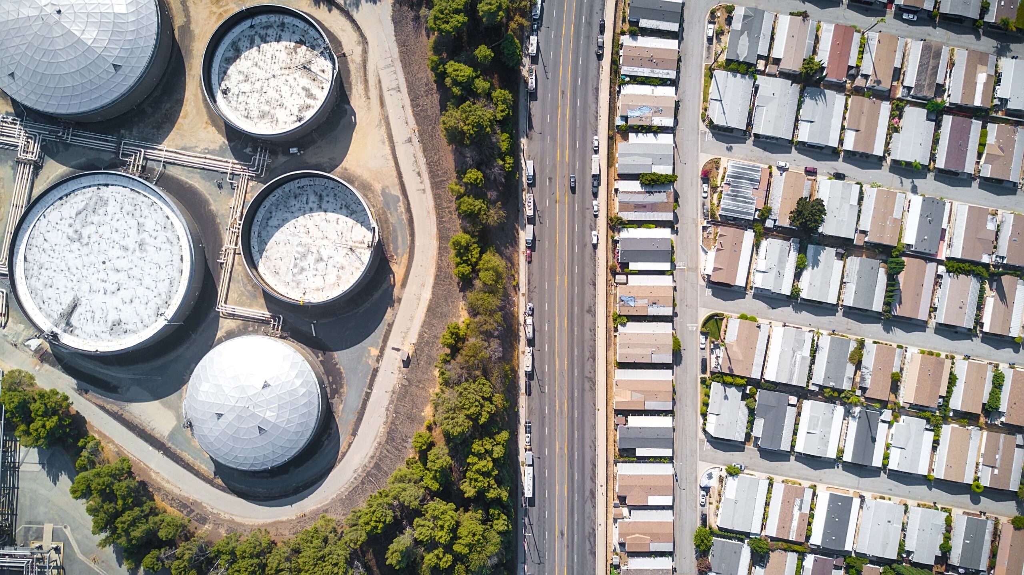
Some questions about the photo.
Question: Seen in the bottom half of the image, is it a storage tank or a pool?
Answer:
storage tank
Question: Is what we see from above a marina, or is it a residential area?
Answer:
residential area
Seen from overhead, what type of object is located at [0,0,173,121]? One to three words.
storage tank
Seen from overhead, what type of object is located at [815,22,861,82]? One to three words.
house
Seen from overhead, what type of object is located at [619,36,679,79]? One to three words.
house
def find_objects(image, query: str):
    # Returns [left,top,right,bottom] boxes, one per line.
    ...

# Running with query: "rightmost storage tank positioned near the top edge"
[201,4,347,141]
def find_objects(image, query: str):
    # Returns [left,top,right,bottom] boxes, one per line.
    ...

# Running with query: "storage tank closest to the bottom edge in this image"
[183,334,327,470]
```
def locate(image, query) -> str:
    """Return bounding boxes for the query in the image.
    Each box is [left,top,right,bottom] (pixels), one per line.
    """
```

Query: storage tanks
[201,4,347,141]
[8,170,205,353]
[0,0,173,121]
[183,334,327,470]
[241,171,377,309]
